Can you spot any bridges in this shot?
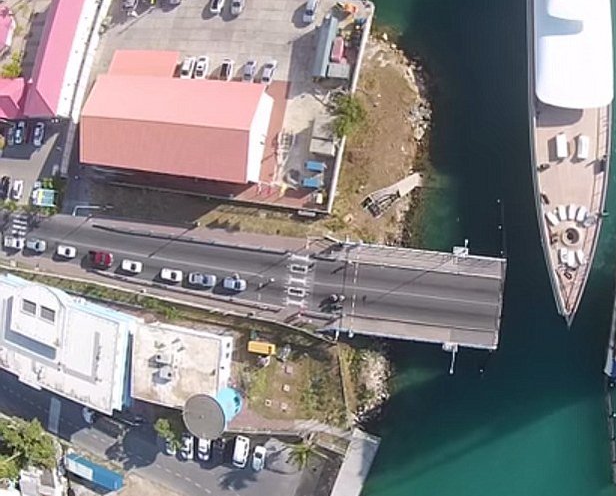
Yes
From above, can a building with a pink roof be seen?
Yes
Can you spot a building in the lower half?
Yes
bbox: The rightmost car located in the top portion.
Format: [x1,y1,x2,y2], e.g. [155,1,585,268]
[303,0,319,25]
